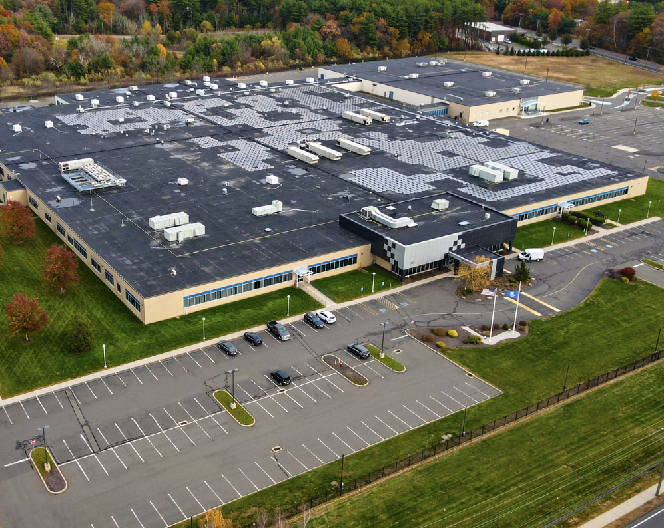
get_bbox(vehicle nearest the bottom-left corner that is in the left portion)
[217,339,238,354]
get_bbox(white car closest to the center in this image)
[316,308,338,322]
